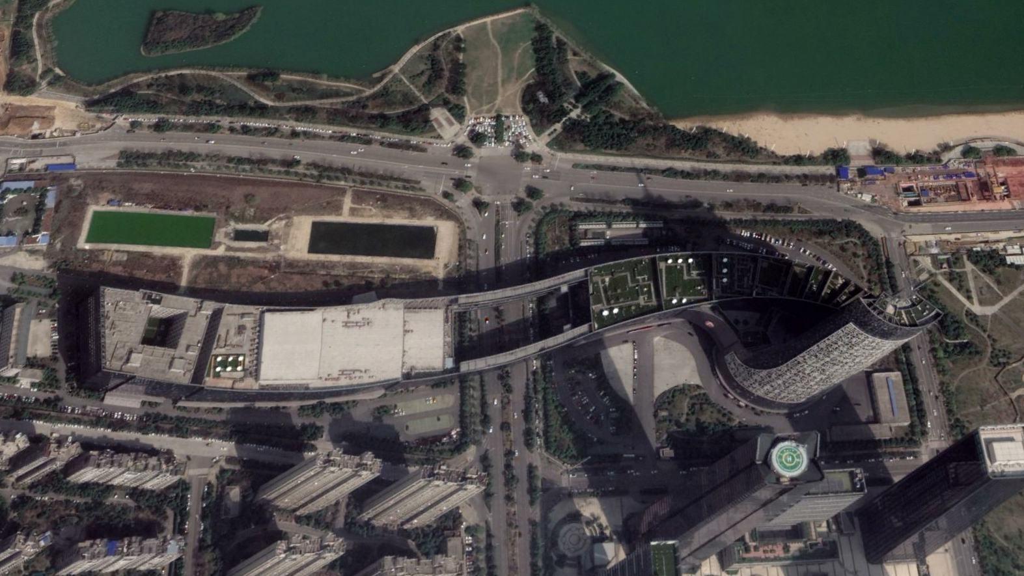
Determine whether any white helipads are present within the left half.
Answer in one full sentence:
No, within the left half there is no white helipad.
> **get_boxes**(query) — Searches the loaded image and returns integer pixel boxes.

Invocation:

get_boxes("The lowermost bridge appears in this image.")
[452,323,594,377]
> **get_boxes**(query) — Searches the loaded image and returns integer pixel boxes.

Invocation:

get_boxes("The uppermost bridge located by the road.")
[454,269,587,308]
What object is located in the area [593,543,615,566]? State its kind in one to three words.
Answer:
building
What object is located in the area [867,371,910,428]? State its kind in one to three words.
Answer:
building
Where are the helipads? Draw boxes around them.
[771,441,809,478]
